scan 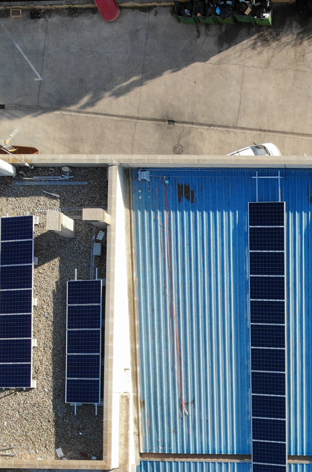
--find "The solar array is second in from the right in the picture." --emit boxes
[65,268,105,414]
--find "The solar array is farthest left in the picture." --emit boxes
[0,213,39,391]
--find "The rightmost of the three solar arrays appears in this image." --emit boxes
[247,169,289,472]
